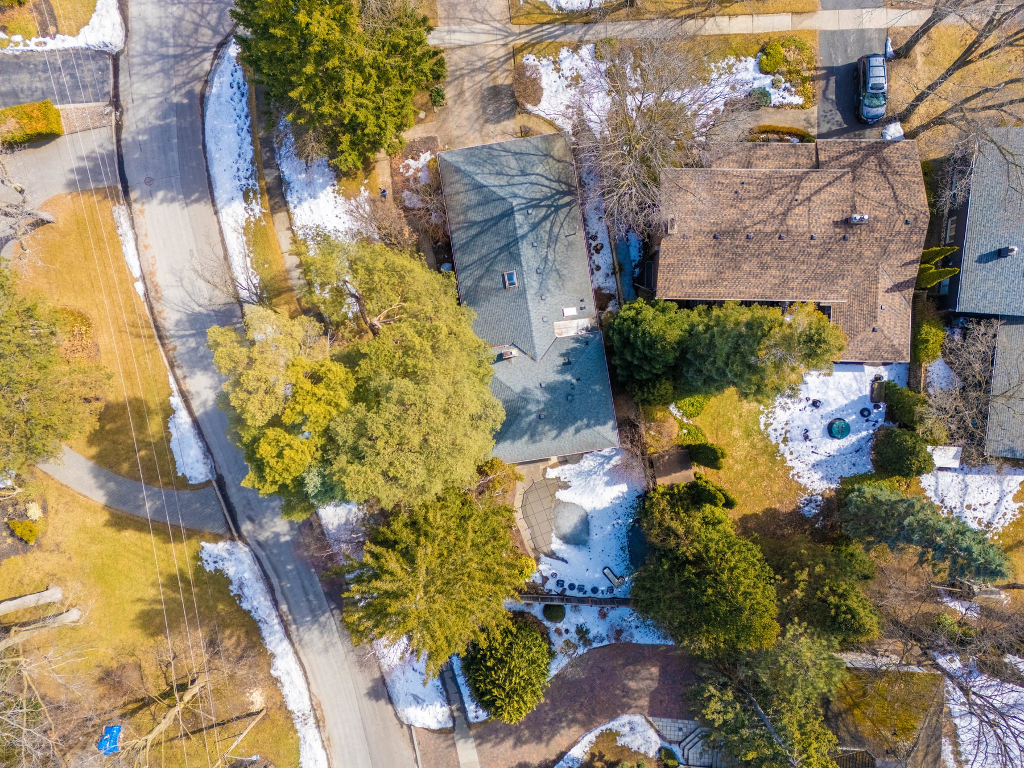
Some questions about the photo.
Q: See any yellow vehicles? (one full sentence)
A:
No, no yellow vehicle is visible in the view.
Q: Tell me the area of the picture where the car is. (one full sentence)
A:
You can find the car in the top right area of the picture.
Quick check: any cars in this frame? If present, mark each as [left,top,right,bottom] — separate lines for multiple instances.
[853,53,889,124]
